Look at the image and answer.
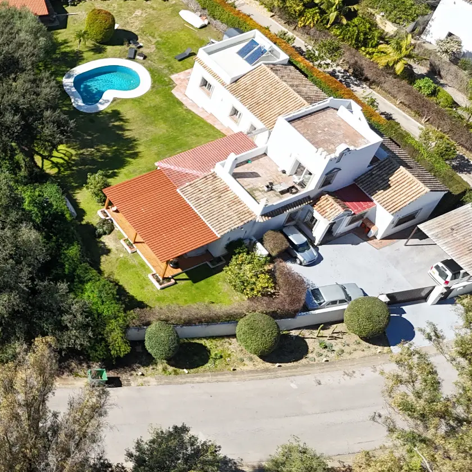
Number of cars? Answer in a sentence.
There are 3 cars in the image.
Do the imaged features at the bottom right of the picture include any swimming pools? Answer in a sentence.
No, I see no swimming pool at the bottom right of the picture.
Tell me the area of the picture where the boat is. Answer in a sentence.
You can find the boat in the top area of the picture.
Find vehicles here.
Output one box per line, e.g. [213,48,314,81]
[427,255,470,288]
[280,221,324,267]
[303,281,366,316]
